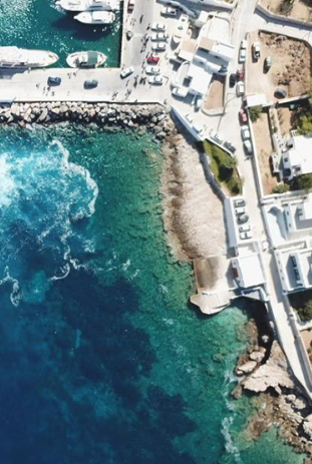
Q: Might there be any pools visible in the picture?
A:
No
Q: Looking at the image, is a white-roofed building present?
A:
Yes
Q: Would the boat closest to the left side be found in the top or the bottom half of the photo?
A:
top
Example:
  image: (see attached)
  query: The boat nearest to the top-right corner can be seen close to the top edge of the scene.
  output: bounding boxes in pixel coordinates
[174,14,189,42]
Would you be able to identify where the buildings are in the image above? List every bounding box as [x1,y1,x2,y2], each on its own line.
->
[184,58,222,98]
[280,131,312,177]
[243,93,270,108]
[265,195,312,241]
[194,18,235,65]
[227,244,269,301]
[203,0,237,9]
[271,240,312,292]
